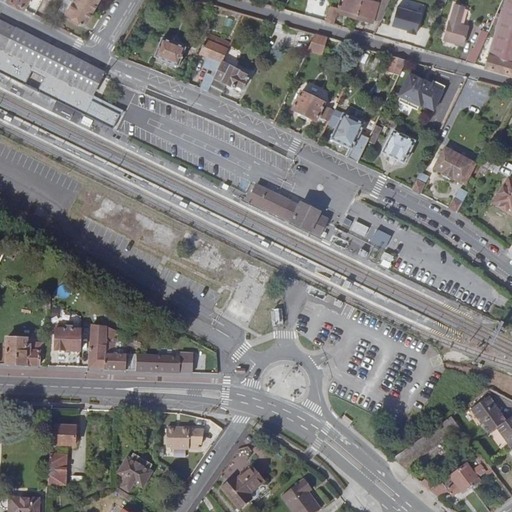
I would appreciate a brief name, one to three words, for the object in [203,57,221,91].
building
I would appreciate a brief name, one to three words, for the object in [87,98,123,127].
shed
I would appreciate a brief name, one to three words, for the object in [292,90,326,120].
house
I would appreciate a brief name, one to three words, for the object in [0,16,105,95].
building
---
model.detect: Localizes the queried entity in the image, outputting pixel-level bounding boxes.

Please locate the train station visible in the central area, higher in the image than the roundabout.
[0,76,474,345]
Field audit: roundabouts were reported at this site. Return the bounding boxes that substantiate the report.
[233,331,337,424]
